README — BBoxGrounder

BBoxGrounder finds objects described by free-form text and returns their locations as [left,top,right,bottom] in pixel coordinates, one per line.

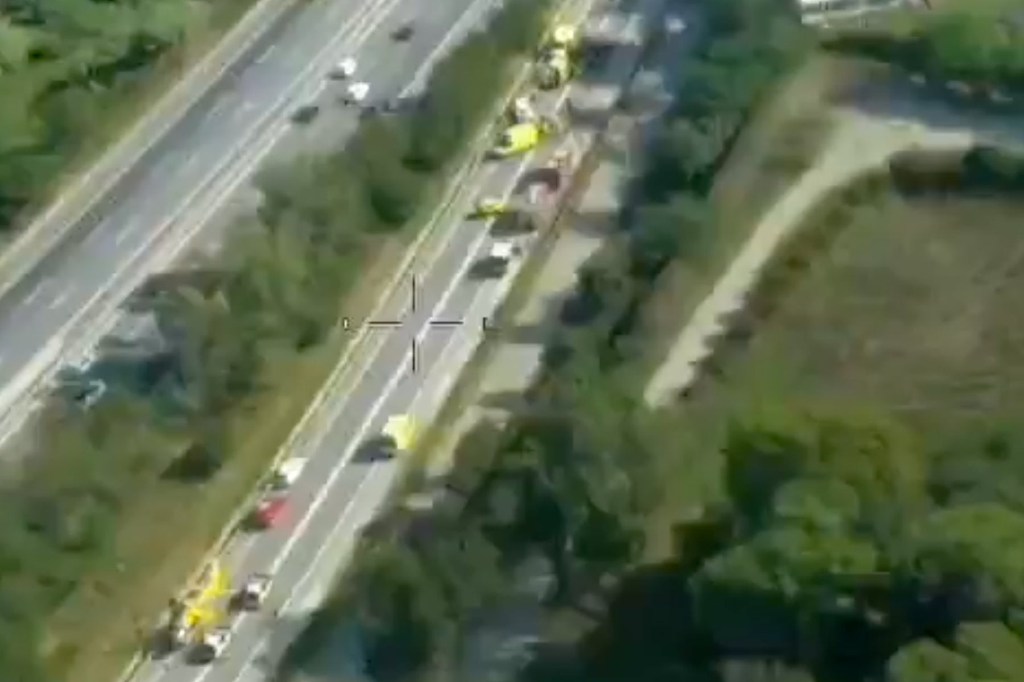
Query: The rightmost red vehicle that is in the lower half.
[254,498,289,534]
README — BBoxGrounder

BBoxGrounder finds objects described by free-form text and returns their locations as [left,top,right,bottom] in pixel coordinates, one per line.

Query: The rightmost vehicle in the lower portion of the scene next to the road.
[386,410,426,456]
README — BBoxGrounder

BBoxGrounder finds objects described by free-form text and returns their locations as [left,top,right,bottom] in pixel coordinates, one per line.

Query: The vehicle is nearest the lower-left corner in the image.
[149,622,176,659]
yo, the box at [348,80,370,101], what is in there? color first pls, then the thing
white car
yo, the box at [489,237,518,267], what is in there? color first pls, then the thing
white van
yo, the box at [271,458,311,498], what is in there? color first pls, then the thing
white van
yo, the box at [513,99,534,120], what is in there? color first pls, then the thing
white vehicle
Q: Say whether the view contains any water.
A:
No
